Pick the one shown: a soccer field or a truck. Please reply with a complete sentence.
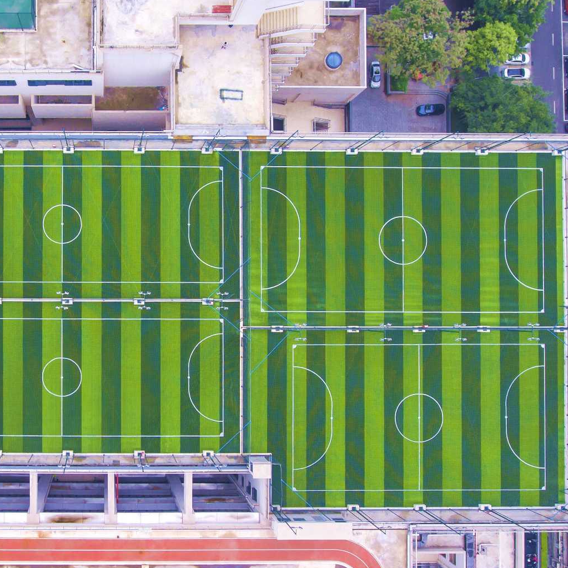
This aerial view contains a soccer field.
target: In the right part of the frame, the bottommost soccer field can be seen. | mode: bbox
[245,331,565,508]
